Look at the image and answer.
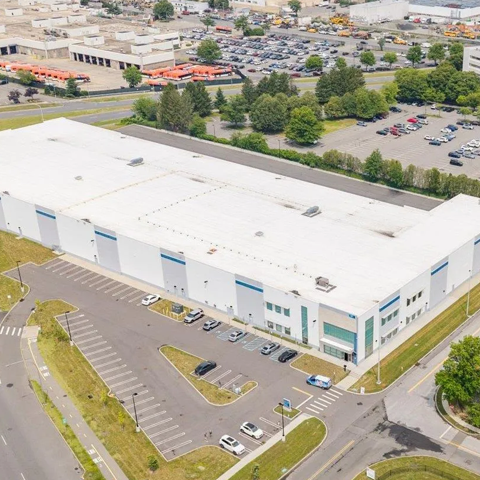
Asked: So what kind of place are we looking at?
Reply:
industrial area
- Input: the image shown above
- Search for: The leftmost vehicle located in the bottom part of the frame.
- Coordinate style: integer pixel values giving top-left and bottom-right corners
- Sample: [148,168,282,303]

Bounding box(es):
[140,293,161,305]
